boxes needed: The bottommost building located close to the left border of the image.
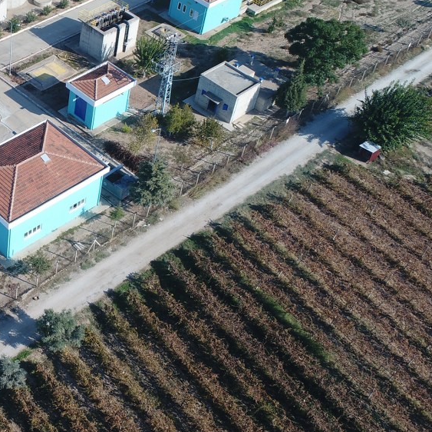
[0,120,110,258]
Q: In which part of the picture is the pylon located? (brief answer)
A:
top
